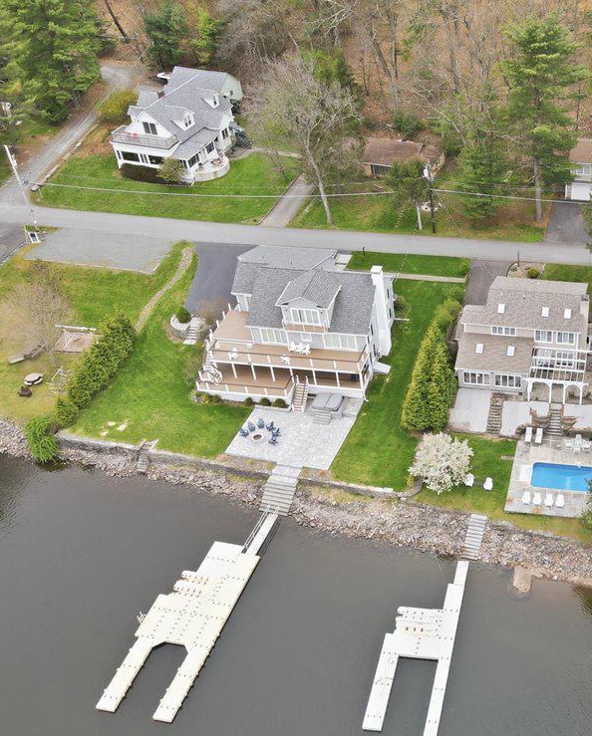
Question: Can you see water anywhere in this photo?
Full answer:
Yes, there is water in the image.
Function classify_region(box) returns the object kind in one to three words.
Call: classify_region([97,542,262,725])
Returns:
pier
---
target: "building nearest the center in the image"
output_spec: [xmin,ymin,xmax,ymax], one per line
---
[191,247,398,409]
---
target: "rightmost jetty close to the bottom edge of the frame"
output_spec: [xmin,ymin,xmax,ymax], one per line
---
[363,584,464,736]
